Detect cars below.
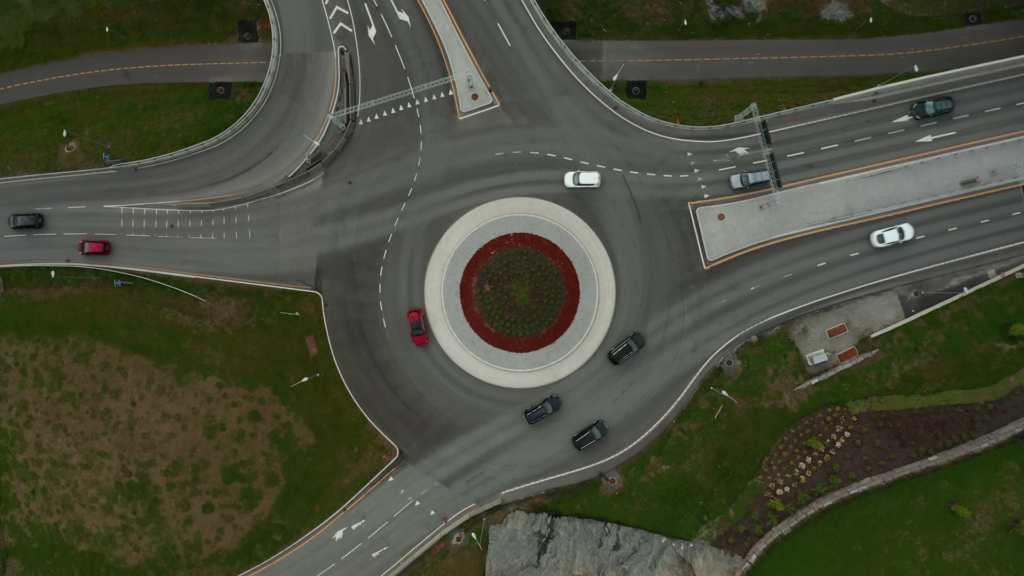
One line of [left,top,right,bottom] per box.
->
[524,395,561,425]
[732,171,771,190]
[8,212,42,229]
[78,240,111,257]
[572,420,608,451]
[408,308,428,346]
[910,98,952,120]
[871,225,912,246]
[609,334,644,364]
[564,170,600,188]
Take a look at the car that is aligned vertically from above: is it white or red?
red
